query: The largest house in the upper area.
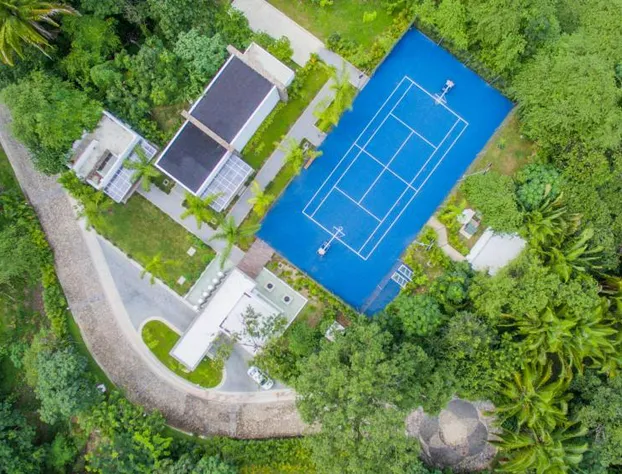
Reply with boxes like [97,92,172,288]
[154,42,295,196]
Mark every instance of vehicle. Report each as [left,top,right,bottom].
[245,364,274,391]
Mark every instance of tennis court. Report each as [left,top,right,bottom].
[257,27,518,321]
